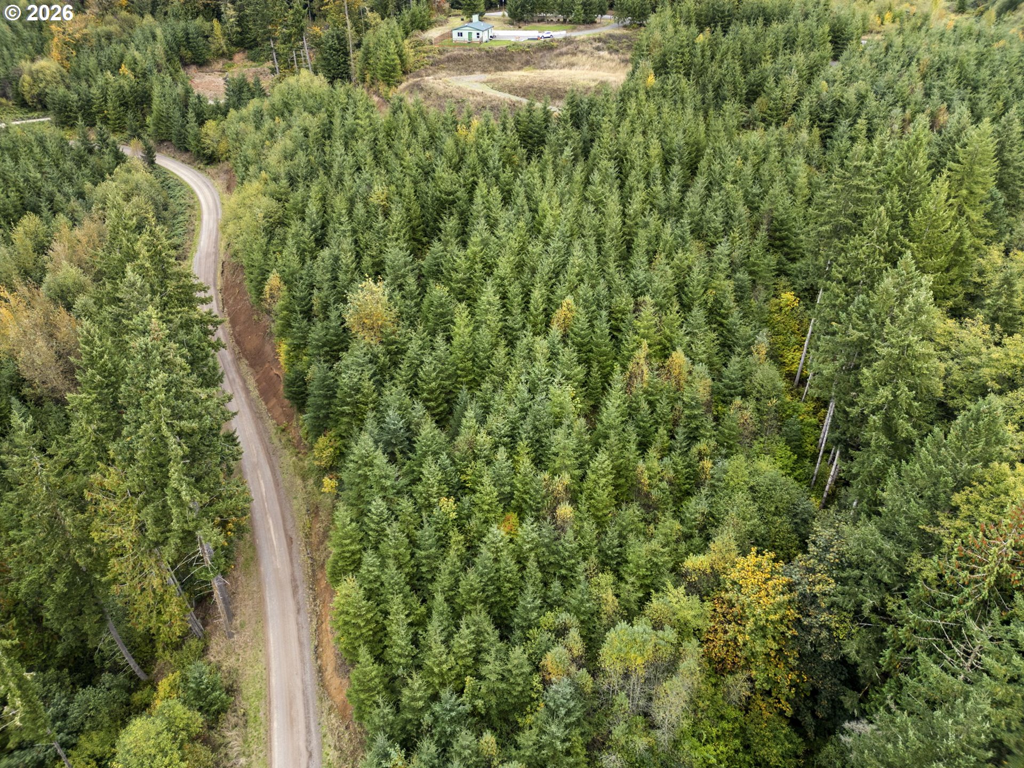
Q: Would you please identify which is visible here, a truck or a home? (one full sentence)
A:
This aerial view contains a home.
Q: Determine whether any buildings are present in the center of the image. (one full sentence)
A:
No, I can find no building in the center of the image.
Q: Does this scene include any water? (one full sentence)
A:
No, the scene doesn't show any water.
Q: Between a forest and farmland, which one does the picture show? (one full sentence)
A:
It's a forest.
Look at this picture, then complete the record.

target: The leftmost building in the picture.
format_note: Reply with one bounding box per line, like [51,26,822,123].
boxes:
[450,12,494,44]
